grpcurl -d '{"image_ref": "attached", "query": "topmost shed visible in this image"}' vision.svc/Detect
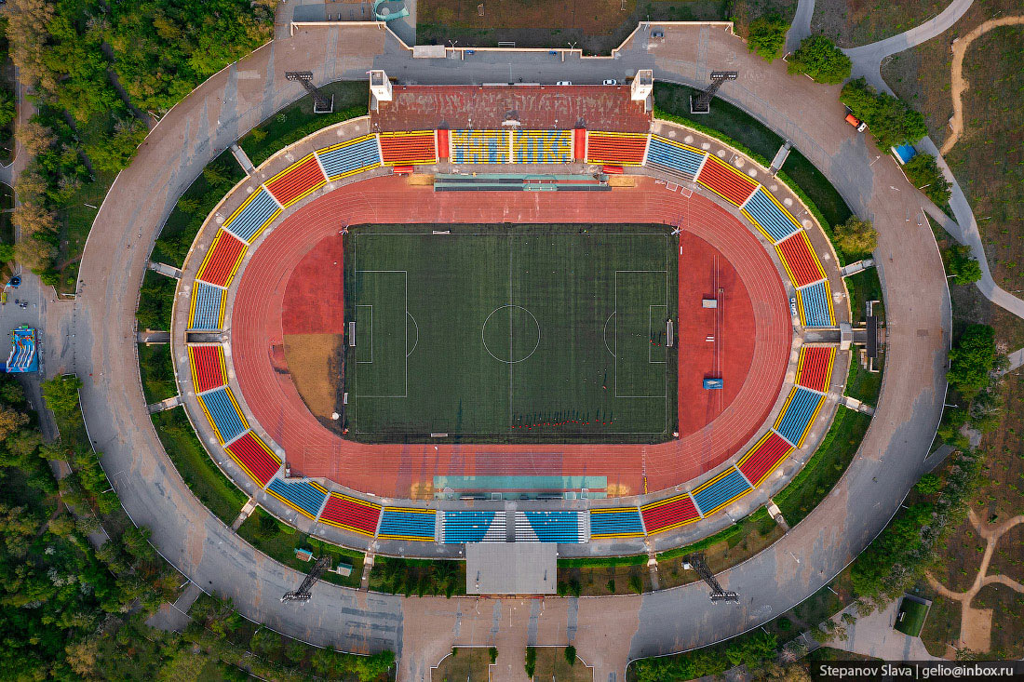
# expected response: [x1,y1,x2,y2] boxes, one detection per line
[414,45,445,60]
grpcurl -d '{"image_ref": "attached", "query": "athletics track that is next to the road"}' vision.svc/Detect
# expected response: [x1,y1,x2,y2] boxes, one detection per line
[232,173,792,500]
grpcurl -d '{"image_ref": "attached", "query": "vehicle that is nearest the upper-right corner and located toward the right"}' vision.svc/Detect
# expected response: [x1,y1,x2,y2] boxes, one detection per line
[845,110,867,130]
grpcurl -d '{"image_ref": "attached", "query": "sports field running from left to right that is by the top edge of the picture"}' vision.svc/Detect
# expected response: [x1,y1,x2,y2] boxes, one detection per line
[416,0,732,49]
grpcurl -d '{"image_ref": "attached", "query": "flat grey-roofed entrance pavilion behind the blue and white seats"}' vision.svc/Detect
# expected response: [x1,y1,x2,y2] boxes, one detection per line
[466,540,557,600]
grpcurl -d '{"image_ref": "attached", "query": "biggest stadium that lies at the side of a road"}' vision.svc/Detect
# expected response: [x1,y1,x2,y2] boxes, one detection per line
[170,115,852,560]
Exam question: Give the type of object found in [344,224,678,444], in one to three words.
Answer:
soccer field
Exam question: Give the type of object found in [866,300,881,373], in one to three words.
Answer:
building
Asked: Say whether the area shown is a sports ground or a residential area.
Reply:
sports ground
